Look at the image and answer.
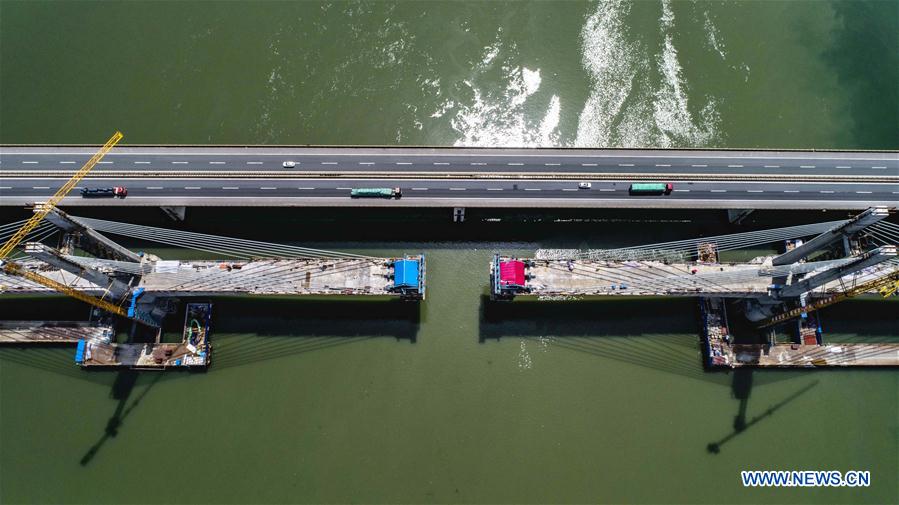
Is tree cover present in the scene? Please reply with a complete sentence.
No, no tree cover is visible.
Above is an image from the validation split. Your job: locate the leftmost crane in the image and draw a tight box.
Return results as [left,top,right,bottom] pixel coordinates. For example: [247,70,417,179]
[0,131,157,328]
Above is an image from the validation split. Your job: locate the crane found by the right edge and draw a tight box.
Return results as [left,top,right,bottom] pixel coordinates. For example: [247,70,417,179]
[756,264,899,330]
